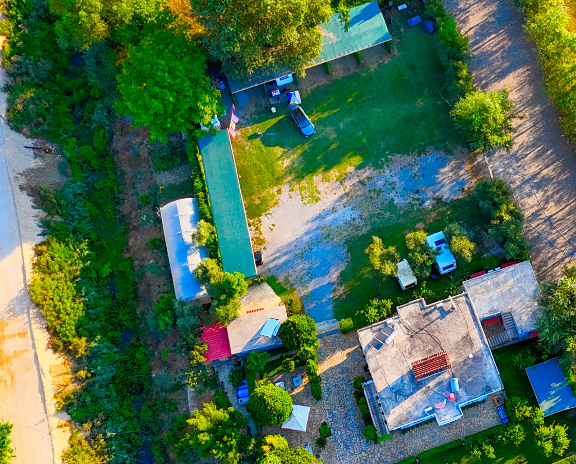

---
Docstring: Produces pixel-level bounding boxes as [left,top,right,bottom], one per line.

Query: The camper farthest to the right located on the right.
[427,229,458,283]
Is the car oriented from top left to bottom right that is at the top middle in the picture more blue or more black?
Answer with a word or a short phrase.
blue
